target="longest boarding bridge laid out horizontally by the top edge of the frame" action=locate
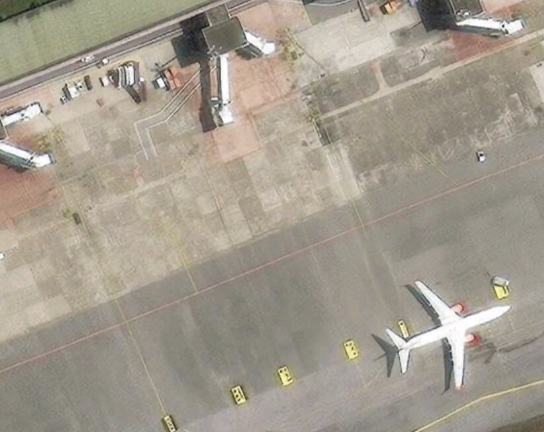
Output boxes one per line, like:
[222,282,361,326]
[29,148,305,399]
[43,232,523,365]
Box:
[454,18,526,36]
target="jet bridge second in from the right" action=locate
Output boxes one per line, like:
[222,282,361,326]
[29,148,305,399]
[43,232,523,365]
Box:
[243,29,279,56]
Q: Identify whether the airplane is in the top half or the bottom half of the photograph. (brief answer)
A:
bottom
